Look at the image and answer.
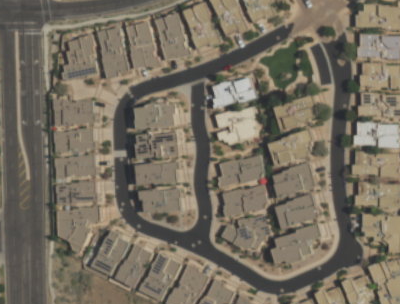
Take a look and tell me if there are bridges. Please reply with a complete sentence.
No, no bridge is visible in the scene.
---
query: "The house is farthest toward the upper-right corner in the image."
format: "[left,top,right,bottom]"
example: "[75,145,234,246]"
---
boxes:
[356,4,400,30]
